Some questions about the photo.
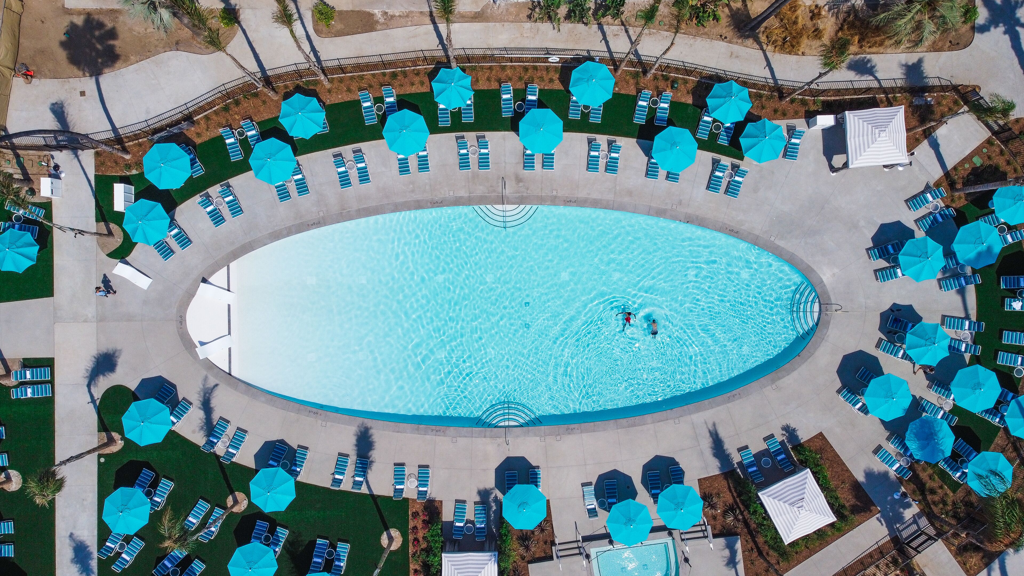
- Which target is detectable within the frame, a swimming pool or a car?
swimming pool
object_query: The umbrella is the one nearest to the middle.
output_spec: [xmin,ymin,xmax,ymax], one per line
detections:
[519,109,563,153]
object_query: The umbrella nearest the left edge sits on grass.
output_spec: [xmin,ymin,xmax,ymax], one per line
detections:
[0,228,42,273]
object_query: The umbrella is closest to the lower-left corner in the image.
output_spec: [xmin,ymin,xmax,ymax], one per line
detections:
[102,487,151,535]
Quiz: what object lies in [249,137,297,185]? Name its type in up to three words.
umbrella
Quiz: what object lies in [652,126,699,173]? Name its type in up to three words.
umbrella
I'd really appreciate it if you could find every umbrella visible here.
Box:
[279,93,325,140]
[951,364,1000,413]
[652,126,699,173]
[102,487,151,535]
[502,484,547,530]
[249,137,297,185]
[988,185,1024,226]
[606,499,653,546]
[569,61,615,107]
[657,484,703,530]
[228,540,278,576]
[953,220,1002,269]
[1002,396,1024,440]
[382,109,430,156]
[707,80,751,124]
[740,118,786,163]
[898,236,945,282]
[964,452,1012,497]
[0,228,42,273]
[905,322,951,366]
[906,415,954,463]
[431,67,474,110]
[143,142,191,189]
[123,199,171,246]
[123,398,172,446]
[519,109,563,153]
[864,373,912,421]
[250,467,295,513]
